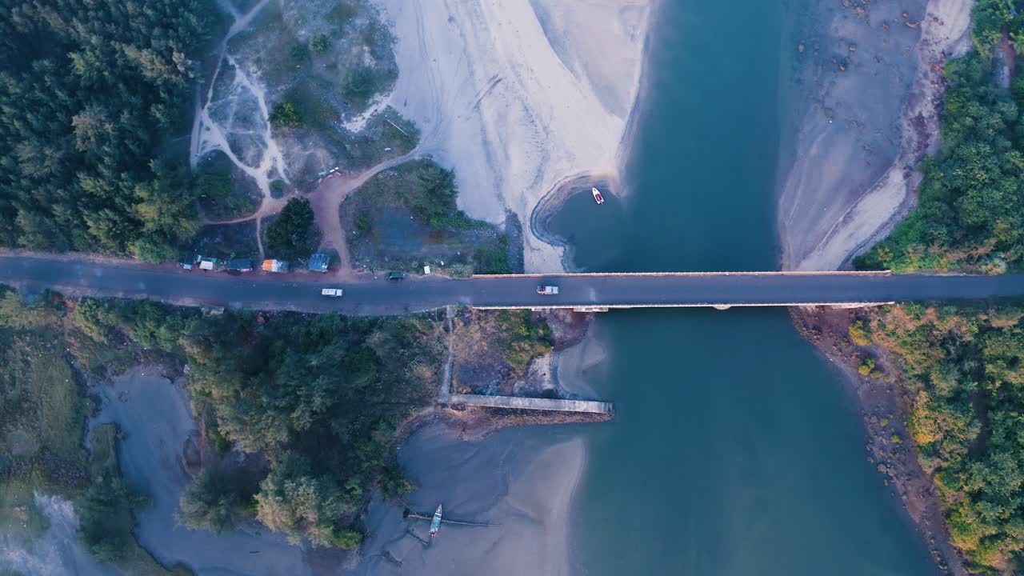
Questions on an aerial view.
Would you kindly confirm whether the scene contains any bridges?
Yes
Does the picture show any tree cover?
Yes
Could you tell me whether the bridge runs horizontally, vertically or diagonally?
horizontally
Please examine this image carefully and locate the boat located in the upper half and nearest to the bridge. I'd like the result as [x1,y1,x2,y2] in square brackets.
[593,186,606,206]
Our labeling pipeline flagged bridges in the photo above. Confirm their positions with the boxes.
[472,271,894,311]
